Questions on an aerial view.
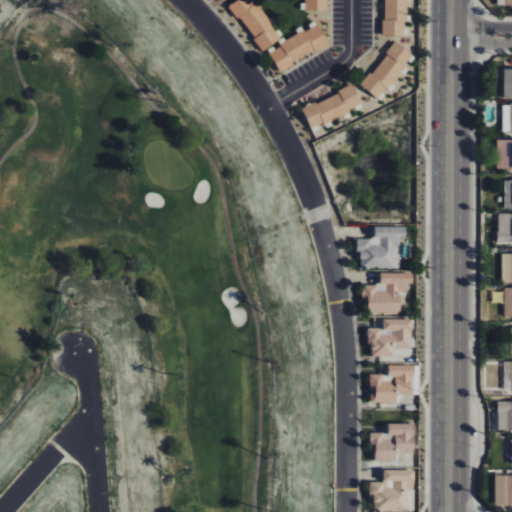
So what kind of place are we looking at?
golf course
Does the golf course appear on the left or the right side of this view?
left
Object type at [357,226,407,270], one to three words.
house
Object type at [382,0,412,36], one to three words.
building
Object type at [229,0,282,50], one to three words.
building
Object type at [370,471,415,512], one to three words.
house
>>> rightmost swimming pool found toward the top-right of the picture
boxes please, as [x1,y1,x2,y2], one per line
[485,100,498,127]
